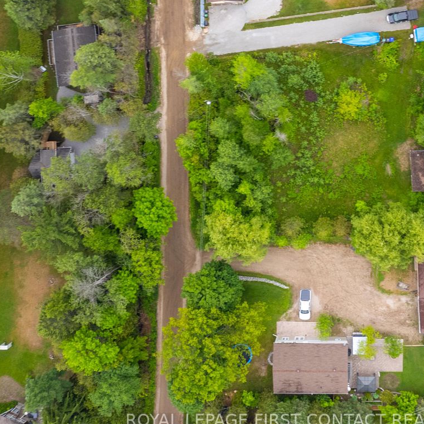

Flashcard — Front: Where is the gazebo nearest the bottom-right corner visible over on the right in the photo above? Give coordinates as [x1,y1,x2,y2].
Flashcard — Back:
[356,370,377,393]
